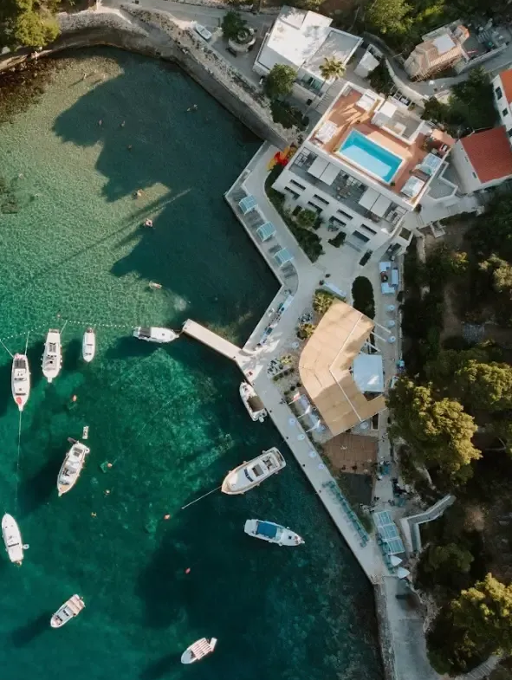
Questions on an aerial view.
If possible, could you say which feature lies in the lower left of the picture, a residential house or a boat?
boat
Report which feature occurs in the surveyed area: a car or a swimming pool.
swimming pool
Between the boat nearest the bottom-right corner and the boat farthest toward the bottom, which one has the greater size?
the boat nearest the bottom-right corner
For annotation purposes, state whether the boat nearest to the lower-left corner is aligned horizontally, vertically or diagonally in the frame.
diagonally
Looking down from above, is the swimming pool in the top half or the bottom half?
top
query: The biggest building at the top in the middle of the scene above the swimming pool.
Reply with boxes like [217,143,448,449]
[247,5,363,104]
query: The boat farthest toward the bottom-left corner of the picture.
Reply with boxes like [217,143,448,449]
[53,593,85,625]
